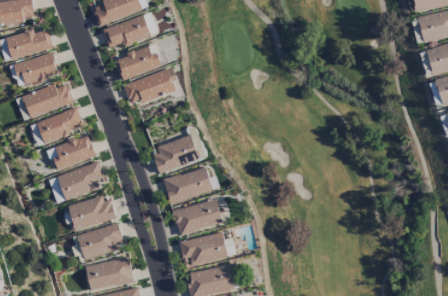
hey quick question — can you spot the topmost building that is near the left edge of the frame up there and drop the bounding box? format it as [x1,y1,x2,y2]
[0,0,34,25]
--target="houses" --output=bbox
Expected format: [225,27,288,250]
[96,0,149,26]
[0,30,51,62]
[116,43,160,79]
[188,265,234,296]
[175,198,229,235]
[73,223,124,264]
[30,110,83,147]
[50,164,104,204]
[9,53,58,86]
[414,11,448,44]
[420,46,448,78]
[104,12,159,48]
[165,166,220,202]
[15,84,72,121]
[154,135,199,171]
[85,258,134,292]
[0,0,34,25]
[429,78,448,108]
[46,138,94,170]
[182,233,236,266]
[414,0,448,10]
[64,196,115,230]
[124,70,184,104]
